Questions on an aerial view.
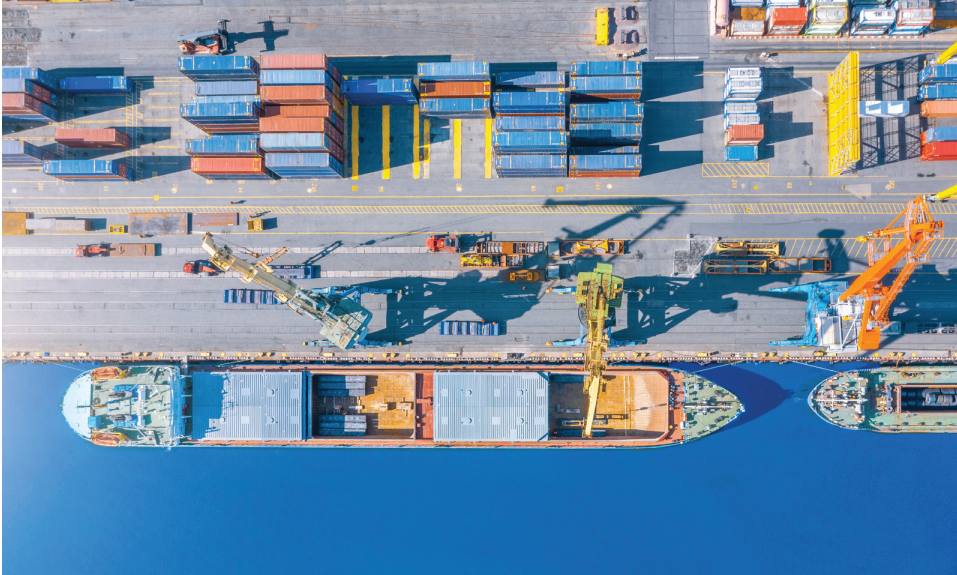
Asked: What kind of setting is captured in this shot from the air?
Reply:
port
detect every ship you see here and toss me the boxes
[805,356,957,434]
[61,363,745,448]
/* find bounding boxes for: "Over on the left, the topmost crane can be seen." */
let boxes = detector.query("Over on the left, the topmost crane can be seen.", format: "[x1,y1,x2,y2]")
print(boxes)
[189,226,407,358]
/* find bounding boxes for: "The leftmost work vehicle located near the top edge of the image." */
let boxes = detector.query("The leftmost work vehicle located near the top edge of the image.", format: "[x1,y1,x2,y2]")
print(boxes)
[174,13,221,56]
